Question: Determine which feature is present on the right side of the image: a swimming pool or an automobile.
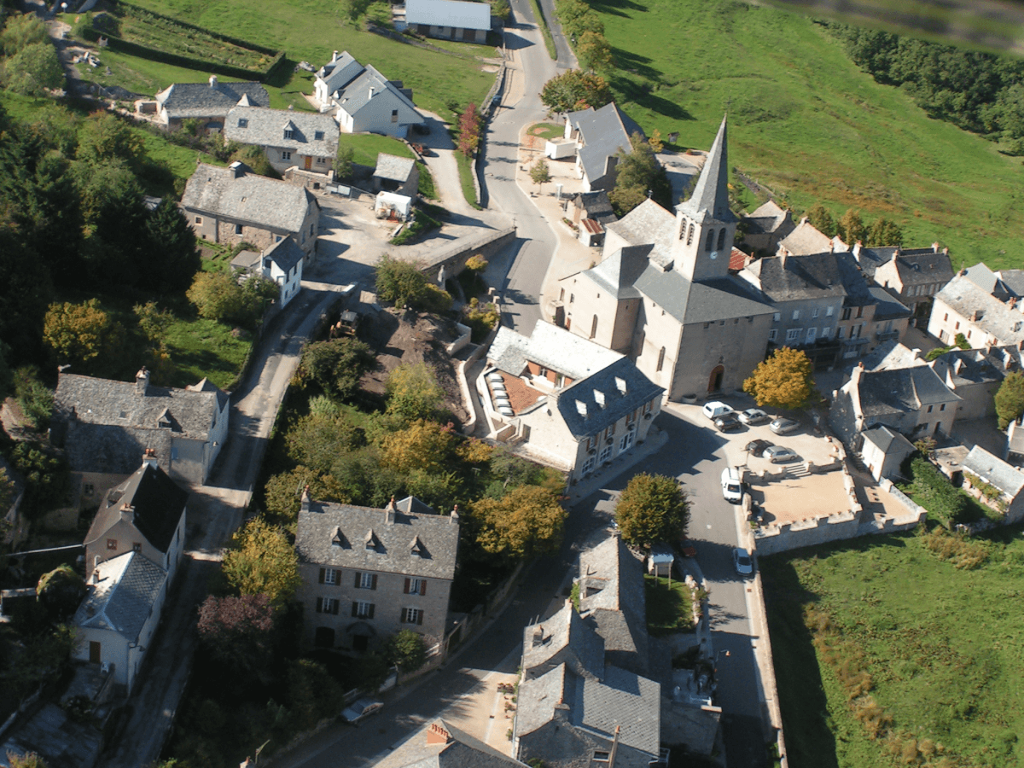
automobile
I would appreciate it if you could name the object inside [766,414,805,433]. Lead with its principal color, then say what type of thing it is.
gray car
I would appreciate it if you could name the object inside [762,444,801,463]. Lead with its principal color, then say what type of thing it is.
gray car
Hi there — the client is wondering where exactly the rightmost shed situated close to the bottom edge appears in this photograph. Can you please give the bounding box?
[658,698,719,768]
